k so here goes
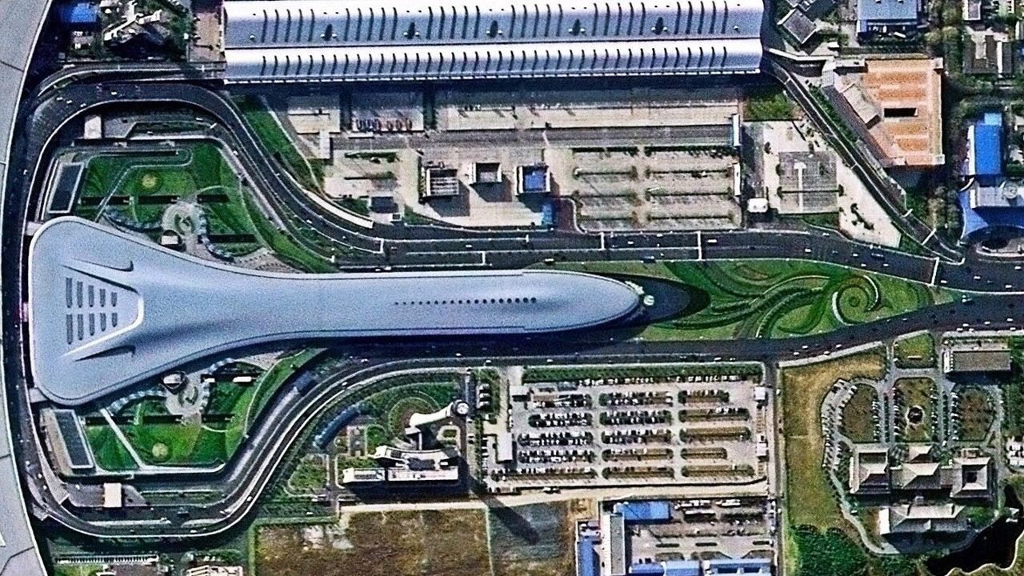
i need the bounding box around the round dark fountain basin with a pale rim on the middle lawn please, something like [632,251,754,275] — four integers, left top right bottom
[907,406,924,424]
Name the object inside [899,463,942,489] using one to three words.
building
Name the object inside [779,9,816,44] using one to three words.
house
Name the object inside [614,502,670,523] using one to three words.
shed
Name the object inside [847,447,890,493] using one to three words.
building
